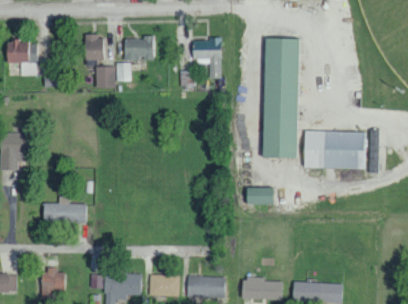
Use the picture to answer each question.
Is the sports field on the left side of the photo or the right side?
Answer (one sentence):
It is on the right.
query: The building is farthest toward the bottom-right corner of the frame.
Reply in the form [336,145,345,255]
[293,282,343,303]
